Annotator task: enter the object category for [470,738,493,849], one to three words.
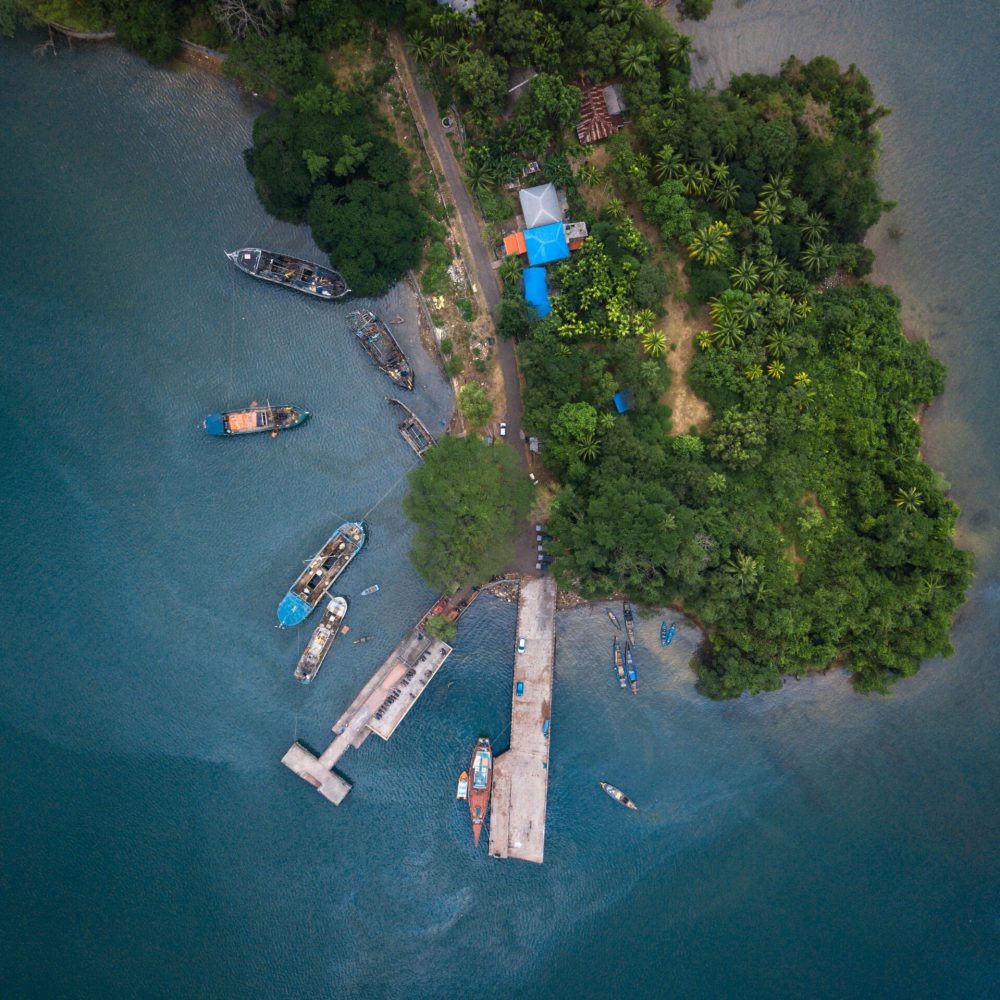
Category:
ship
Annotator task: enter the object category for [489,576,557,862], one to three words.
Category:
pier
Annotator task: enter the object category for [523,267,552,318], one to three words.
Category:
shed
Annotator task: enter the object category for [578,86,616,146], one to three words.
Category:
house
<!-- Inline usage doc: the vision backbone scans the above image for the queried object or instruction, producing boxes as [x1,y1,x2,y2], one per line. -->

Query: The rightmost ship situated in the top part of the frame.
[351,306,413,390]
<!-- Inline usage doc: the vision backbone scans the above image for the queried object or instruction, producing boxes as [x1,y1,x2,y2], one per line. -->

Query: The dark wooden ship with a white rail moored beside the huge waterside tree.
[224,249,351,300]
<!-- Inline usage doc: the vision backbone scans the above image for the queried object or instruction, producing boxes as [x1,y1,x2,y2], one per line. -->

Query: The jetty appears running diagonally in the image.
[281,583,483,805]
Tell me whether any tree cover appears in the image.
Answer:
Yes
